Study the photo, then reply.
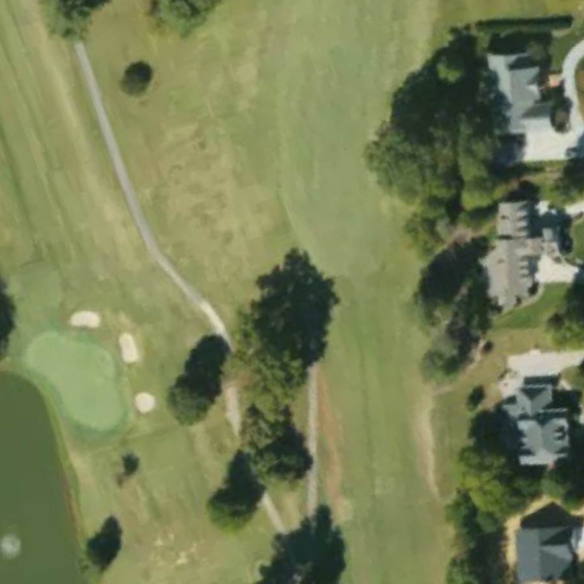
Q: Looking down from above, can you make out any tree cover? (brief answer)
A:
Yes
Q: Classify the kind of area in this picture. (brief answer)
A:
golf course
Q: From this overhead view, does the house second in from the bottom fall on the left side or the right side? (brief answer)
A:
right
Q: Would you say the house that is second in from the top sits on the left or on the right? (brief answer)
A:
right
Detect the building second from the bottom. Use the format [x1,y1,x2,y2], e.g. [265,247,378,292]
[504,385,572,467]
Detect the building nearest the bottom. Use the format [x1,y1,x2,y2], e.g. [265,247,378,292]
[516,527,583,584]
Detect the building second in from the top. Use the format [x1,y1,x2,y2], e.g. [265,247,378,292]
[486,200,557,313]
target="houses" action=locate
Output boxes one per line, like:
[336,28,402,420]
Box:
[486,54,554,135]
[516,527,583,584]
[504,385,572,467]
[486,200,557,313]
